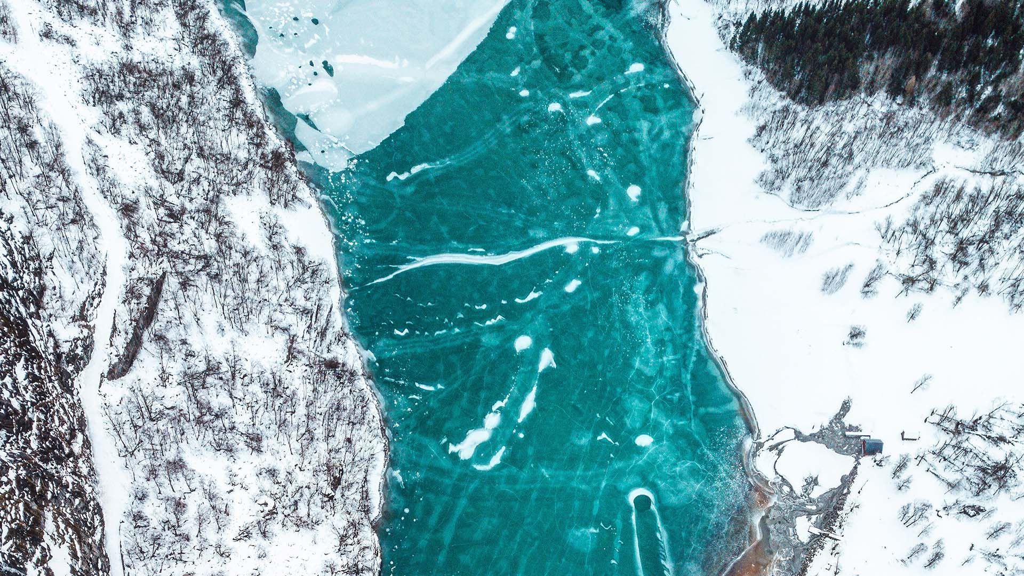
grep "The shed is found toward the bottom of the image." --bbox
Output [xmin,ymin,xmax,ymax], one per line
[861,438,887,457]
